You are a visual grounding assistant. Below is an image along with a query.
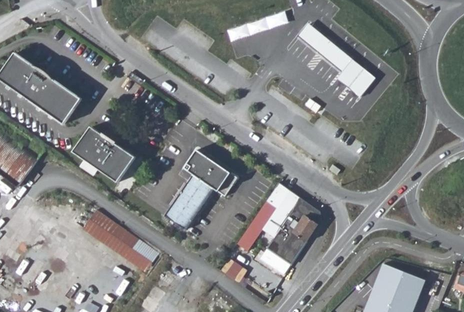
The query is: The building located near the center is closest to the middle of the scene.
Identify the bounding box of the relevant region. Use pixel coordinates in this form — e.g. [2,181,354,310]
[183,148,236,196]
